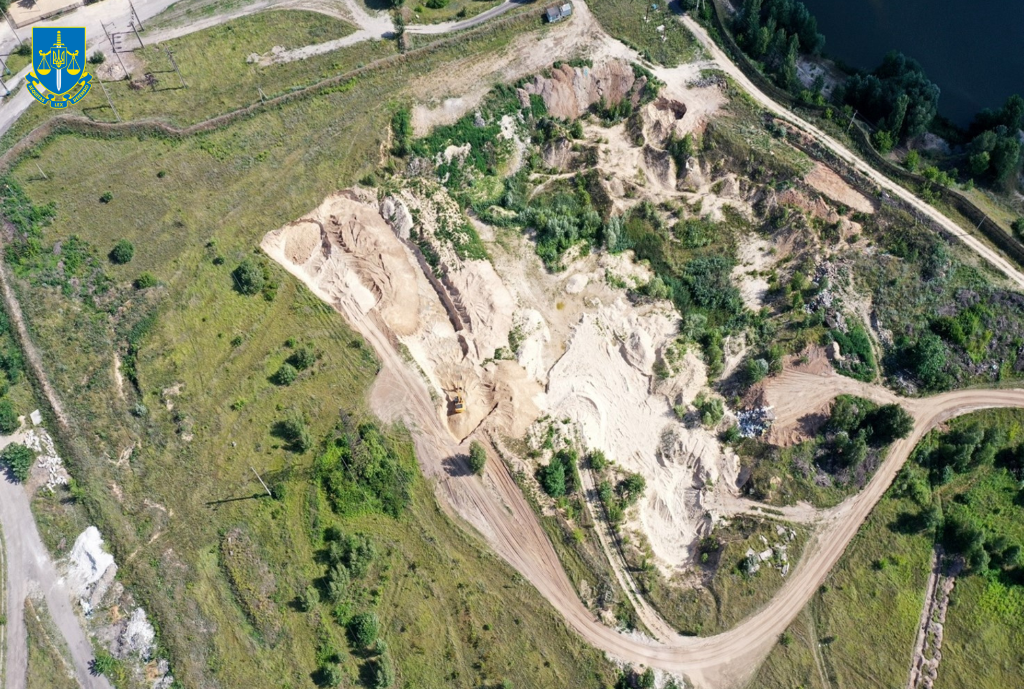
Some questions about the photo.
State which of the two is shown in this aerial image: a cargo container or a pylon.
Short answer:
pylon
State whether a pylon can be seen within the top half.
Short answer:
No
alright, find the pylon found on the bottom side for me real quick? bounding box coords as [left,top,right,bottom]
[329,407,372,481]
